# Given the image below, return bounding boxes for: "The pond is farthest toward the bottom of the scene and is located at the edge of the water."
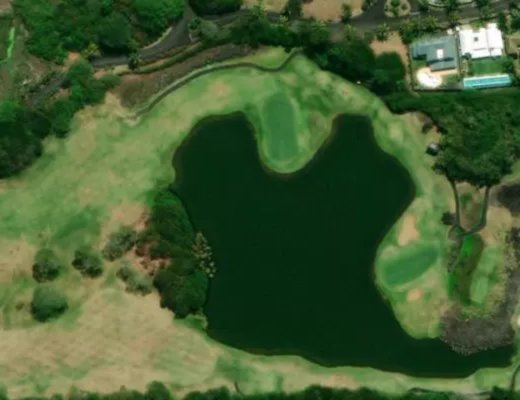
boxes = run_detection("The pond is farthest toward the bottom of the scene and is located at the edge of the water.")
[171,112,516,378]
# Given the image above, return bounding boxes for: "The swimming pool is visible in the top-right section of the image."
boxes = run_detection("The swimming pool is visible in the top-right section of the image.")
[462,75,511,89]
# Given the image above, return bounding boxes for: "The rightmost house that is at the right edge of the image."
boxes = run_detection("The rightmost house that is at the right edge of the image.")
[459,22,503,57]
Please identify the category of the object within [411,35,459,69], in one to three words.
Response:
house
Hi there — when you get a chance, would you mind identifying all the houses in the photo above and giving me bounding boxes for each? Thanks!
[459,22,503,57]
[411,35,459,69]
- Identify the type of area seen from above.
golf course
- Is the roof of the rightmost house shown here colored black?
No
